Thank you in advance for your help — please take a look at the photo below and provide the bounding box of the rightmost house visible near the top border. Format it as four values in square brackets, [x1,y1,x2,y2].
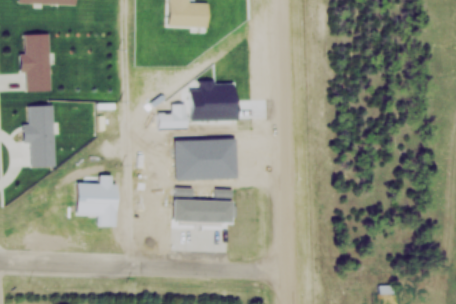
[168,0,210,34]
